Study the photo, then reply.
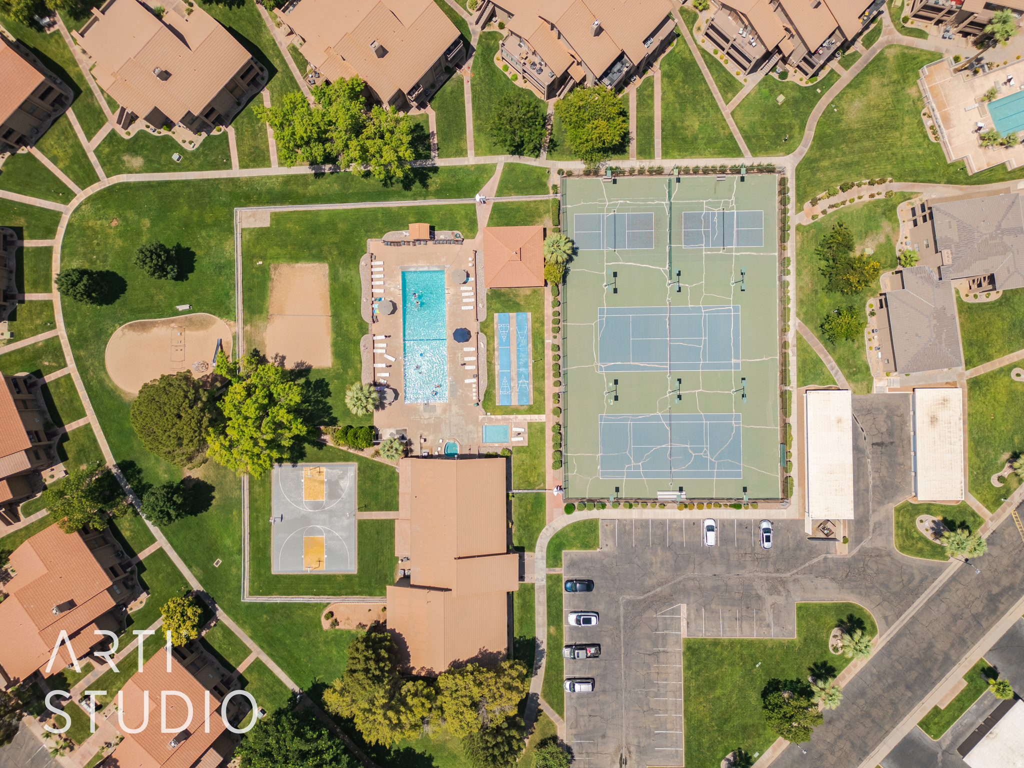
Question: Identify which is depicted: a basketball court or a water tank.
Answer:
basketball court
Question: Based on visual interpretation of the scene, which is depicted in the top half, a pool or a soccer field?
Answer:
pool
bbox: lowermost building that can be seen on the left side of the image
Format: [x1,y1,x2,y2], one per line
[100,640,239,768]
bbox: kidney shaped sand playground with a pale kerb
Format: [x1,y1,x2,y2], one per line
[104,312,234,396]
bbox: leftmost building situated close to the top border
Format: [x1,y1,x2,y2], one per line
[0,38,70,161]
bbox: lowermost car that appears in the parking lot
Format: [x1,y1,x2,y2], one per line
[565,680,595,696]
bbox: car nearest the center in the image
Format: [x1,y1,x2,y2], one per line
[565,581,594,595]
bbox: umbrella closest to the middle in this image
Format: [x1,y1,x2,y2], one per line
[452,327,469,344]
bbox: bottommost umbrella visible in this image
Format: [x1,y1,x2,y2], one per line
[380,388,396,404]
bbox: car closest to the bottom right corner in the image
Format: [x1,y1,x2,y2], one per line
[760,521,775,550]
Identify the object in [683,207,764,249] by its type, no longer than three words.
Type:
sports court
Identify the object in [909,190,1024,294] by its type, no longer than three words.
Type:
house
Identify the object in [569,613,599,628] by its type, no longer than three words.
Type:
car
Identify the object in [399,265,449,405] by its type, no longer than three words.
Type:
swimming pool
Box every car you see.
[704,519,718,547]
[760,521,775,550]
[565,581,594,595]
[569,613,599,628]
[565,680,595,696]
